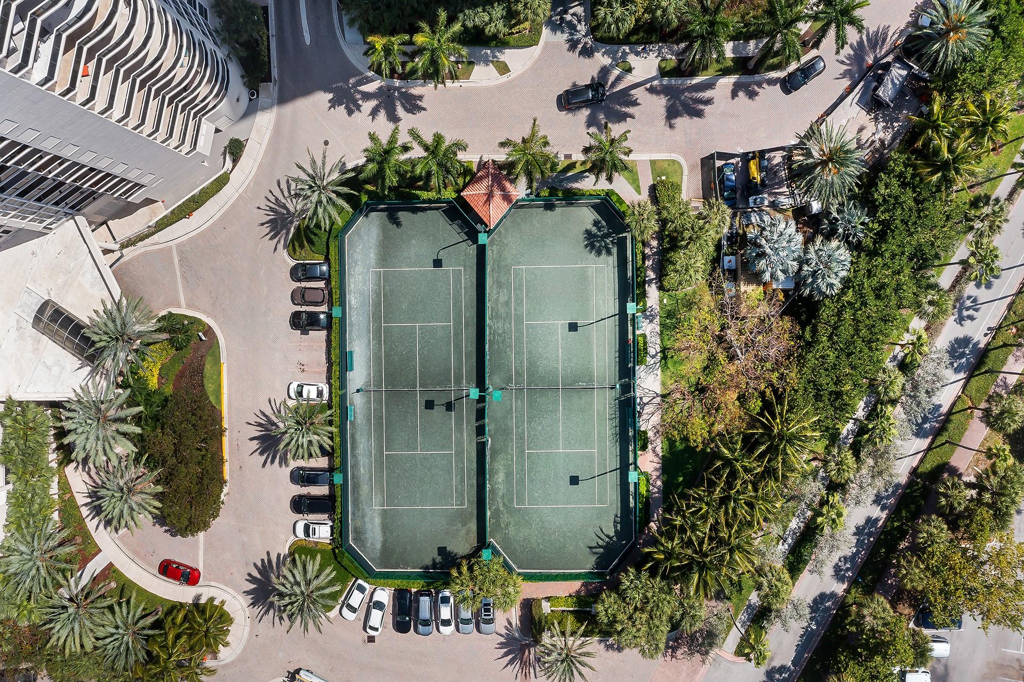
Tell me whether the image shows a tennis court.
Yes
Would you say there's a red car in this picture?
Yes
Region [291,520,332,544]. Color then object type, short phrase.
white car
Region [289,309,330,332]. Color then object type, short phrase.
black car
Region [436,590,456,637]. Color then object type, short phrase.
white car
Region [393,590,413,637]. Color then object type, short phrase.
black car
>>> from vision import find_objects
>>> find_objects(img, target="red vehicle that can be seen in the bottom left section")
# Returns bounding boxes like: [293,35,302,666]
[153,559,200,588]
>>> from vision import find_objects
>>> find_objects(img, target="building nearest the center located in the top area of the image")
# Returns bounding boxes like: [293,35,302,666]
[460,159,520,228]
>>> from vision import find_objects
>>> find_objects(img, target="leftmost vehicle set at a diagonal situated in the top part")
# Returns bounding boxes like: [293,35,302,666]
[784,51,831,90]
